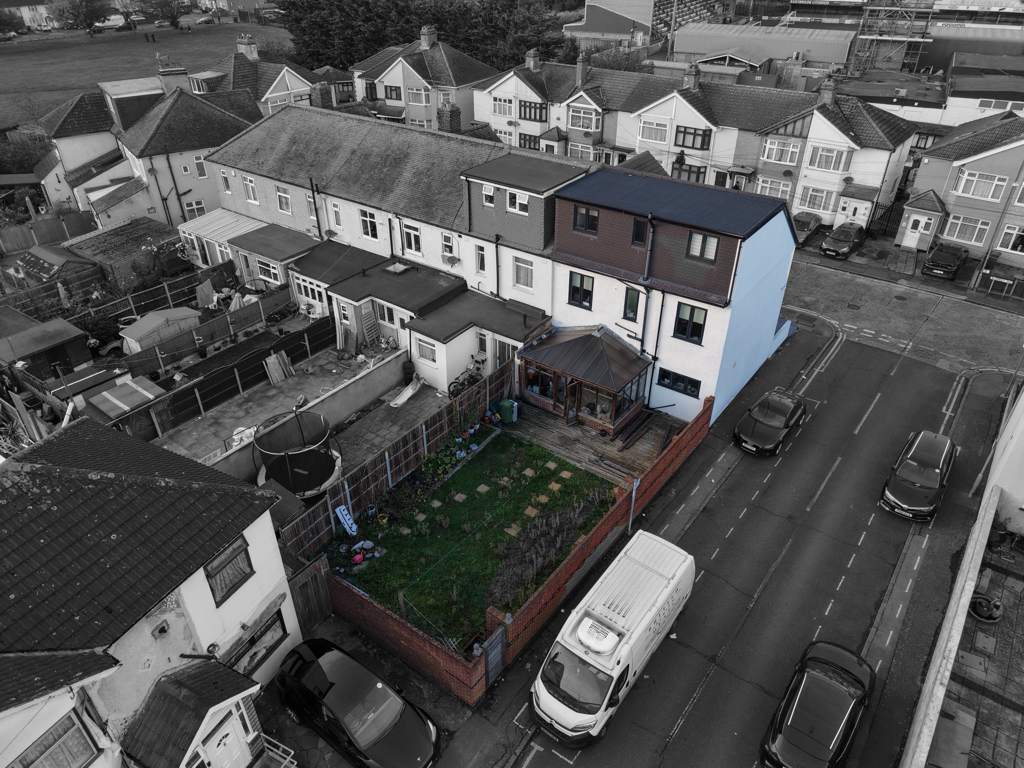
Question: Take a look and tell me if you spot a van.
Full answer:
Yes, there is a van in the image.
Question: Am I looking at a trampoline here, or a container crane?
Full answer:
Visible in the photo is a trampoline.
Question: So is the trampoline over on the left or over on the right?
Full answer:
You can find the trampoline on the left side of the picture.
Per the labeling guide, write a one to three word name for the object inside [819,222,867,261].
car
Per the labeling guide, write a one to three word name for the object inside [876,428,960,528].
car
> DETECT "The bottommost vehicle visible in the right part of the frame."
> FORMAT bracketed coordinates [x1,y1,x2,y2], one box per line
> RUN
[749,646,882,768]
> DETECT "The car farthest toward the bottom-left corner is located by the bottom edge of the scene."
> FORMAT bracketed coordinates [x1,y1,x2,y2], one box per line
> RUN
[261,640,448,768]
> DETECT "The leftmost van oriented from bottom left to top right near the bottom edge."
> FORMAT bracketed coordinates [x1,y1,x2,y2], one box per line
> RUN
[521,529,696,756]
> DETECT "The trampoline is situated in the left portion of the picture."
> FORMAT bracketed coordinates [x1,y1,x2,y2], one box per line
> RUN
[252,412,342,496]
